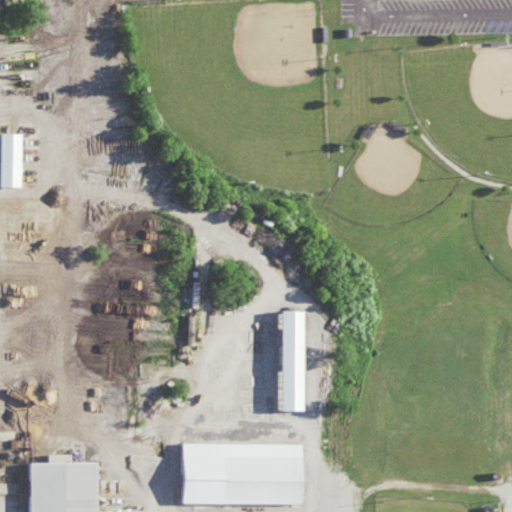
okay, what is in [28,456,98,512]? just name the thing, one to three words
shed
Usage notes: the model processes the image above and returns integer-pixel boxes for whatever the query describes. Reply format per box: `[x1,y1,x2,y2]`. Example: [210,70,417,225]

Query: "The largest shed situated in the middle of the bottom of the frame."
[182,444,304,508]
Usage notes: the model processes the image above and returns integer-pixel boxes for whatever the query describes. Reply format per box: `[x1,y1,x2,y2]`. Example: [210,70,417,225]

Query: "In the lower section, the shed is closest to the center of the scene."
[278,312,306,413]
